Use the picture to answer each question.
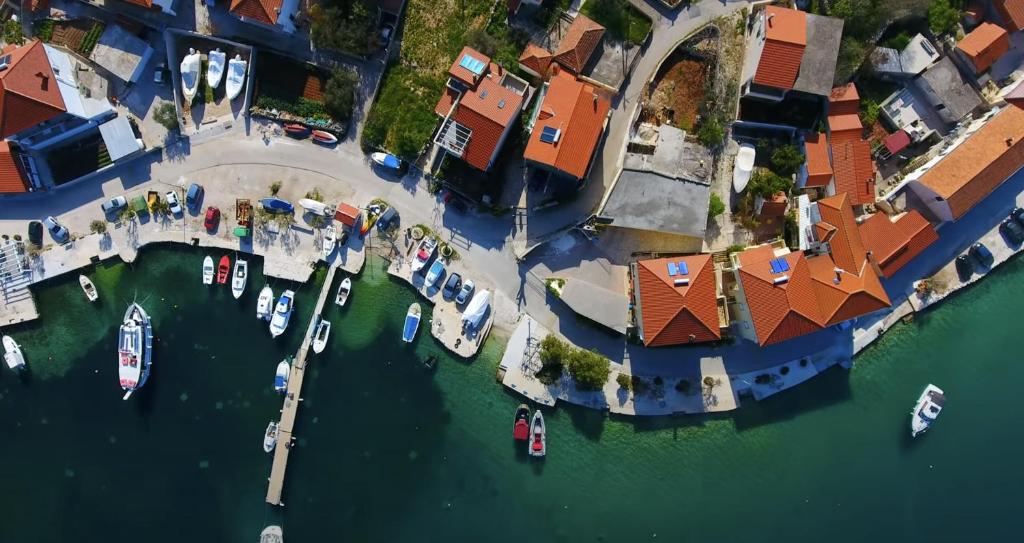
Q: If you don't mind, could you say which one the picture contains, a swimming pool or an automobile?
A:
automobile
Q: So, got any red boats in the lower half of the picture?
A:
Yes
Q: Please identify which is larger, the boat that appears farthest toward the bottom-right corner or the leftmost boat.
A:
the boat that appears farthest toward the bottom-right corner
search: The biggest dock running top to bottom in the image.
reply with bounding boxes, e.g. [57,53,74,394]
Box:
[266,264,338,505]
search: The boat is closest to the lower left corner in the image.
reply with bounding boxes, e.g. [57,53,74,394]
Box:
[1,335,26,372]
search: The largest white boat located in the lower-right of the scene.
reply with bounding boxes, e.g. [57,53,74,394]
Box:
[910,383,948,438]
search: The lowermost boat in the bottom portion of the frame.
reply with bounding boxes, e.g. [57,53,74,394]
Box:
[260,504,284,543]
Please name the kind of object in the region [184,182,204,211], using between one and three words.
car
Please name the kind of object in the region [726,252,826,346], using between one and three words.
house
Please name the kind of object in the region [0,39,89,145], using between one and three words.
house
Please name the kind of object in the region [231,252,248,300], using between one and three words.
boat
